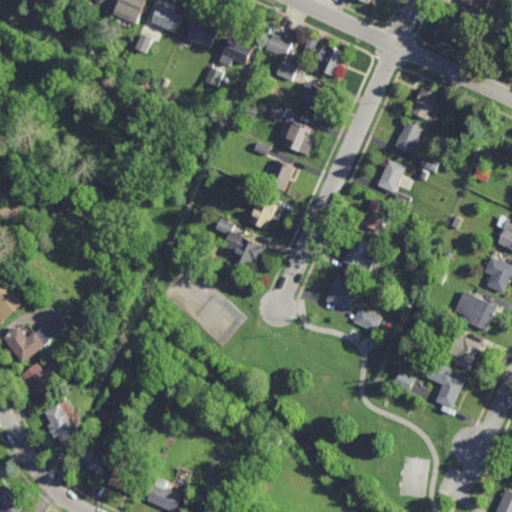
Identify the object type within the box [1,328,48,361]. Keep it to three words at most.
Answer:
house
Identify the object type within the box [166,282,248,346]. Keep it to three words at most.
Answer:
sports court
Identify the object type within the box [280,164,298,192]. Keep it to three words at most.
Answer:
house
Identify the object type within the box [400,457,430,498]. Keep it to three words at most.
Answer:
basketball court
